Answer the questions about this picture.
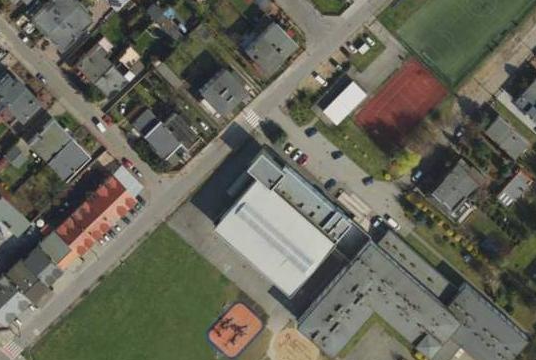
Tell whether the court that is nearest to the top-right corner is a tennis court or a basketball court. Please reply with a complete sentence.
What you see as the court that is nearest to the top-right corner is a tennis court.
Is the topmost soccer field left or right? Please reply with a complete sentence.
You can find the topmost soccer field on the right side of the picture.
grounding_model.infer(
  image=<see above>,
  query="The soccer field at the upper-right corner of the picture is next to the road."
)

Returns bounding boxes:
[392,0,536,90]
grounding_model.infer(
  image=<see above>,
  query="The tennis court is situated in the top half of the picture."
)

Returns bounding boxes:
[353,60,448,147]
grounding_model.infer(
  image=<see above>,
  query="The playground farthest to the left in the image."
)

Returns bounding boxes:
[207,302,263,358]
